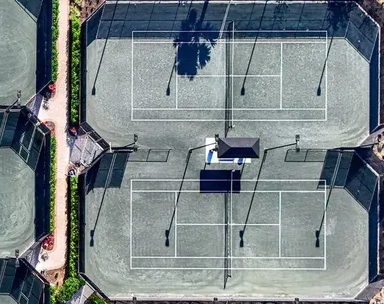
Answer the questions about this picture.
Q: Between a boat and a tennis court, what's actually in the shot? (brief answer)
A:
tennis court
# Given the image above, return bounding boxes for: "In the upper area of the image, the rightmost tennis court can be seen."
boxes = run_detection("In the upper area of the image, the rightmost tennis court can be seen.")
[87,3,378,151]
